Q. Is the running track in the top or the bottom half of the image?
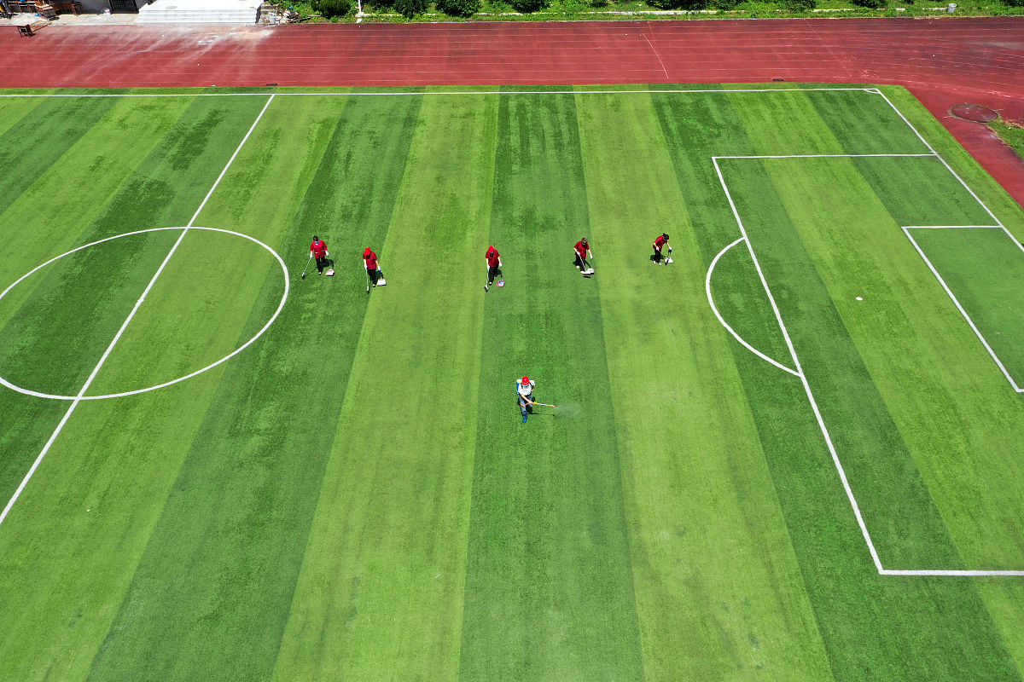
top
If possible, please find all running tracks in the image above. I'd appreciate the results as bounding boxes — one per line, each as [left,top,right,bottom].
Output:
[0,15,1024,210]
